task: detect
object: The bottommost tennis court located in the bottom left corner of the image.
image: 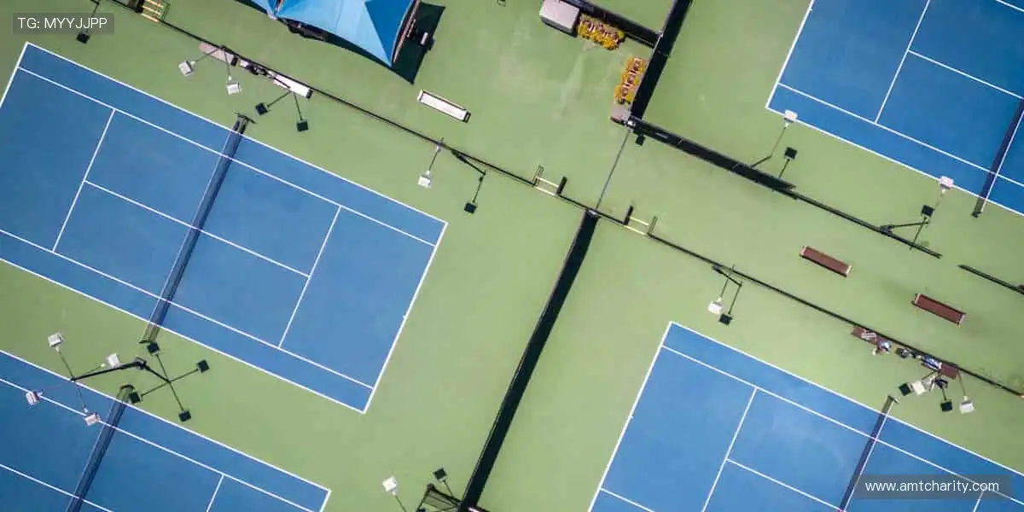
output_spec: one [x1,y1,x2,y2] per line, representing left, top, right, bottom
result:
[0,349,330,512]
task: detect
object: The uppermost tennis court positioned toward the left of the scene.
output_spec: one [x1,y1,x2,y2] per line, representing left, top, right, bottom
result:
[0,44,447,414]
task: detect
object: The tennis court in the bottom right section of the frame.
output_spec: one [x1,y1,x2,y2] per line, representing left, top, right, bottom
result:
[589,323,1024,512]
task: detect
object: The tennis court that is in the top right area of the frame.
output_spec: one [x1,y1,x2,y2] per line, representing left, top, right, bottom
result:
[767,0,1024,215]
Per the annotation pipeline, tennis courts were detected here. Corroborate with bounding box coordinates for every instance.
[0,349,330,512]
[589,323,1024,512]
[767,0,1024,215]
[0,44,447,414]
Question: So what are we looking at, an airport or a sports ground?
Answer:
sports ground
